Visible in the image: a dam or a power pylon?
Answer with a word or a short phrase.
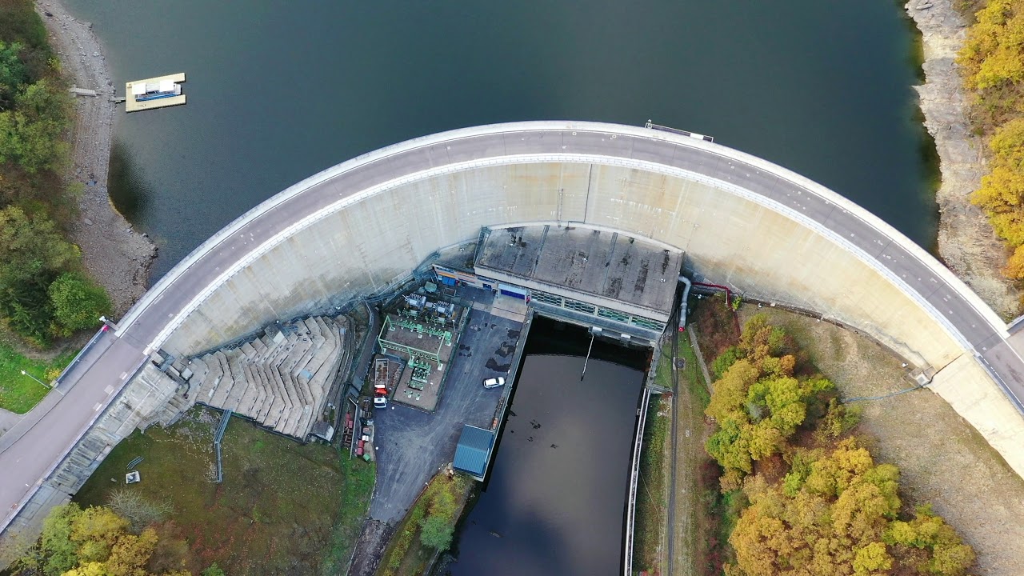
dam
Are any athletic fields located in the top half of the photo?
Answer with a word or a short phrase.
No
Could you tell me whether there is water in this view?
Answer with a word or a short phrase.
Yes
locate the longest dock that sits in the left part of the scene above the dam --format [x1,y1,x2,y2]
[125,73,186,114]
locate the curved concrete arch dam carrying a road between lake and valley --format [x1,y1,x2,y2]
[117,120,1007,375]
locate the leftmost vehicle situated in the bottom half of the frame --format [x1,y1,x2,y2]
[372,361,388,408]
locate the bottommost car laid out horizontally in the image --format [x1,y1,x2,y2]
[483,377,505,389]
